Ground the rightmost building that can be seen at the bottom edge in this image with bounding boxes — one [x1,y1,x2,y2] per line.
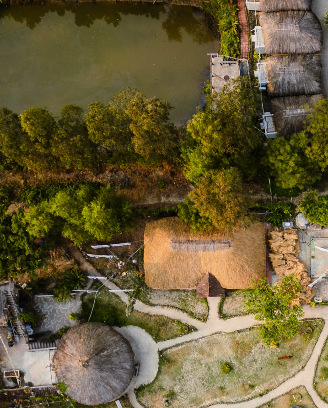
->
[54,322,137,406]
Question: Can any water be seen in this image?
Yes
